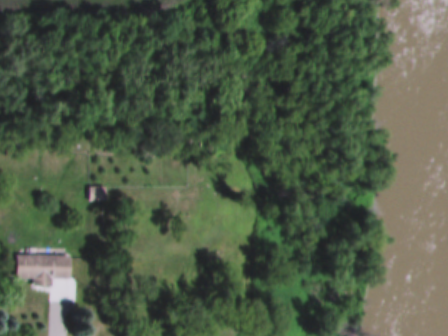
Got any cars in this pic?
No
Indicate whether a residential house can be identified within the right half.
No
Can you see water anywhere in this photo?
Yes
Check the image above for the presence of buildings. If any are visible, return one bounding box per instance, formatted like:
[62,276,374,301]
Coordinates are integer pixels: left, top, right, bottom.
[16,248,72,286]
[88,186,106,202]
